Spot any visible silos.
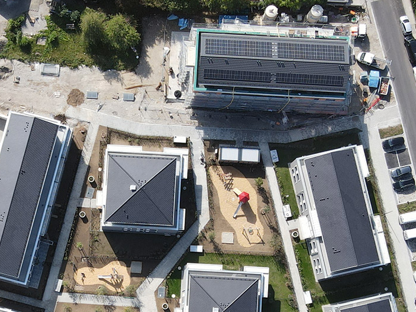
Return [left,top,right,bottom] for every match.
[258,3,277,23]
[302,4,322,26]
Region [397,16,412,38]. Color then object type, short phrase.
white car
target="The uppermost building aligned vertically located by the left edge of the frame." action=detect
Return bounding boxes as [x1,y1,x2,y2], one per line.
[0,111,75,285]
